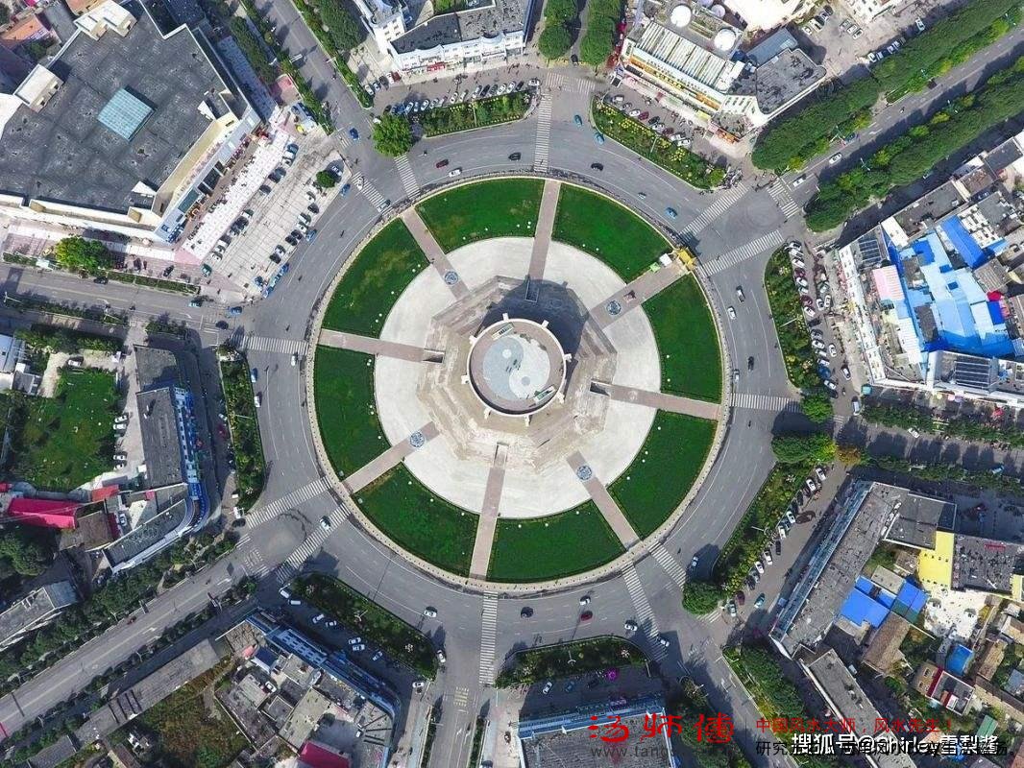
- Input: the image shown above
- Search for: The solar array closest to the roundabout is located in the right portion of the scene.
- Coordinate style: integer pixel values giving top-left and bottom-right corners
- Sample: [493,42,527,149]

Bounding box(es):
[859,239,881,265]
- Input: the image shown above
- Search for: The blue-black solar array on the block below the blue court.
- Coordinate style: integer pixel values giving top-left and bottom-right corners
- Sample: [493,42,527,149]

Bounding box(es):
[953,356,989,382]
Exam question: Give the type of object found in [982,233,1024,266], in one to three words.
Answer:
shed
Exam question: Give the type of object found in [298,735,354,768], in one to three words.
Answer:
building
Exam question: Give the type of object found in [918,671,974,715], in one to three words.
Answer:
house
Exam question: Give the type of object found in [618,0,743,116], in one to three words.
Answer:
building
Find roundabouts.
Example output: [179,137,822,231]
[219,97,815,677]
